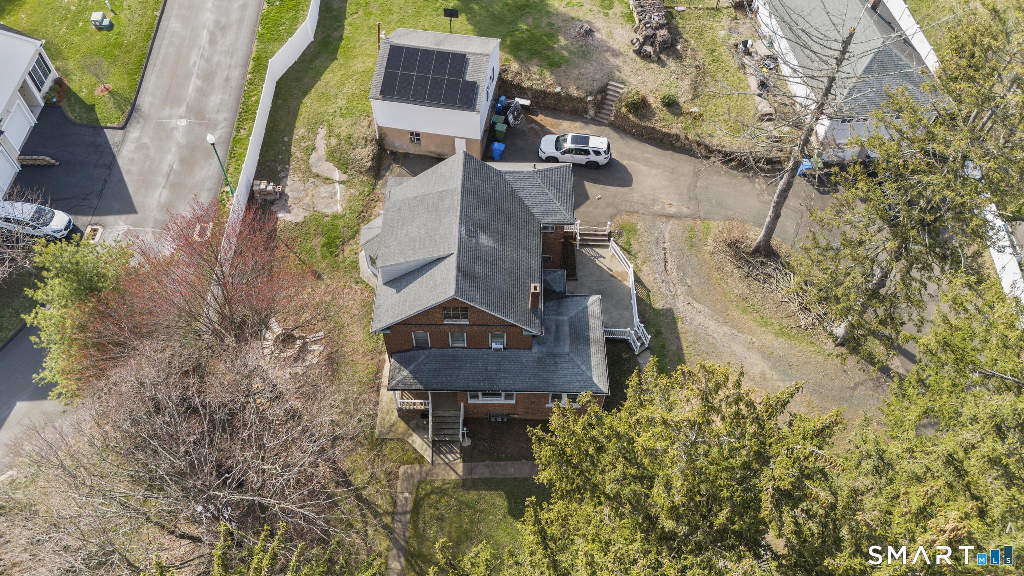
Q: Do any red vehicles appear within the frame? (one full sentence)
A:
No, the frame has no red vehicle in it.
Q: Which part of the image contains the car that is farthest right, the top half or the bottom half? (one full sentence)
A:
It is in the top half that the car that is farthest right appears.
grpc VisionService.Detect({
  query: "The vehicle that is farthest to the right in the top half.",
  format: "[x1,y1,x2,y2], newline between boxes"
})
[536,132,615,173]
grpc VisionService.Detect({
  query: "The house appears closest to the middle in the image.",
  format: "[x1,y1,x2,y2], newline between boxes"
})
[359,151,610,420]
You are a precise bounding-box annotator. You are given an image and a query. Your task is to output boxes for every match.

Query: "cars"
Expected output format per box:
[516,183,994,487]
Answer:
[536,132,615,173]
[0,200,75,244]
